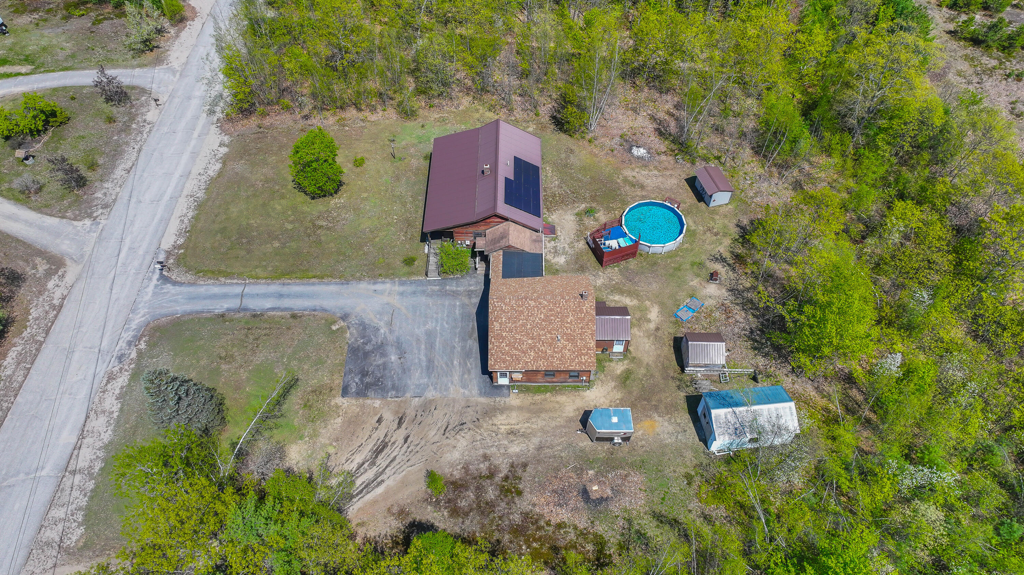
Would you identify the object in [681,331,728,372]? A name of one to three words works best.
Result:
shed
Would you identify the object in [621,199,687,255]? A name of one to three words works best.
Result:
swimming pool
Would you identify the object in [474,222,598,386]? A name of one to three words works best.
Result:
building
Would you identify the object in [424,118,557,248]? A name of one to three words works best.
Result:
house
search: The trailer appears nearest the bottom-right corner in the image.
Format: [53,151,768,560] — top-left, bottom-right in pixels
[576,408,634,448]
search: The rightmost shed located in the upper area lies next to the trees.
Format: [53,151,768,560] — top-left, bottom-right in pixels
[697,163,737,207]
